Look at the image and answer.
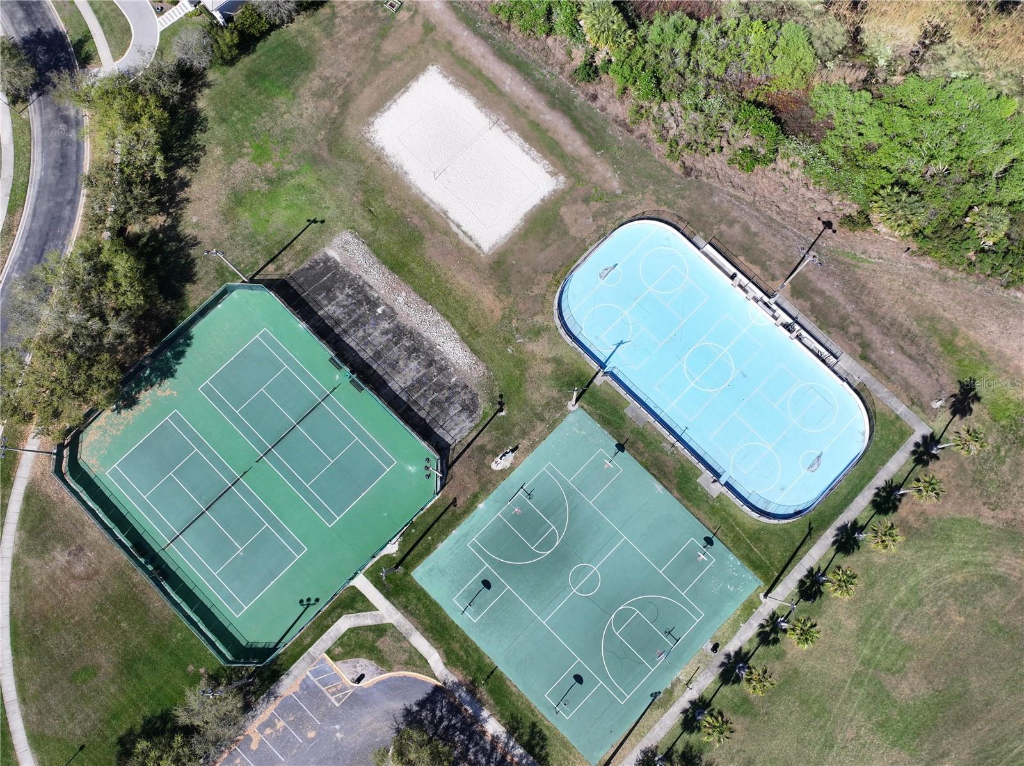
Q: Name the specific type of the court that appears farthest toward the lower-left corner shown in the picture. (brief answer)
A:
tennis court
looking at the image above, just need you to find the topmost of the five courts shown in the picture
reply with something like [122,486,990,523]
[364,64,564,255]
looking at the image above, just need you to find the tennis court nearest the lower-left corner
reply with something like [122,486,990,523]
[107,410,306,617]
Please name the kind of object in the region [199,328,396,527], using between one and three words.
tennis court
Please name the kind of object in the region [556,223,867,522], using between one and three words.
sports court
